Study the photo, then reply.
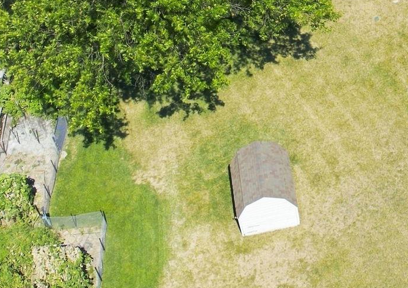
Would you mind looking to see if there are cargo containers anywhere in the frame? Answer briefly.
No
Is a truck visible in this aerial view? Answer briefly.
No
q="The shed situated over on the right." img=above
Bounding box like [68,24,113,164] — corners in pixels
[229,133,300,236]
